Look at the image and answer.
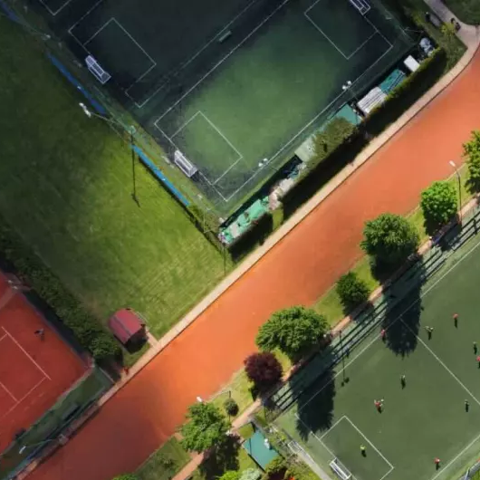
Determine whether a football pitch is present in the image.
Yes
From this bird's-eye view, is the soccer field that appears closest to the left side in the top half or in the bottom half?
top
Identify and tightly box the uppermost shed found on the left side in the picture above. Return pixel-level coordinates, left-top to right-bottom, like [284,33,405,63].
[109,308,154,345]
